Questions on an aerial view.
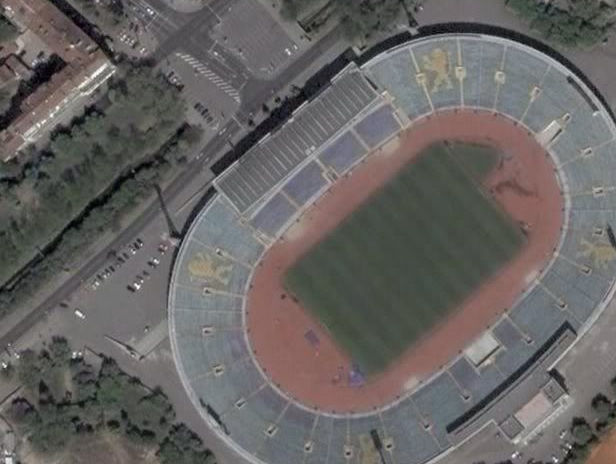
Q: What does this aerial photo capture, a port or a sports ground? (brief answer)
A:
sports ground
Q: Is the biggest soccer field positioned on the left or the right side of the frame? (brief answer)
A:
right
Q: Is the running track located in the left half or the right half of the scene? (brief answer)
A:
right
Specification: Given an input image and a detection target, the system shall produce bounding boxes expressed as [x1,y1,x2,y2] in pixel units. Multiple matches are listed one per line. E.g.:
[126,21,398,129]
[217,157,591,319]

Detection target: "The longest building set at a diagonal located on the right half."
[498,377,575,446]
